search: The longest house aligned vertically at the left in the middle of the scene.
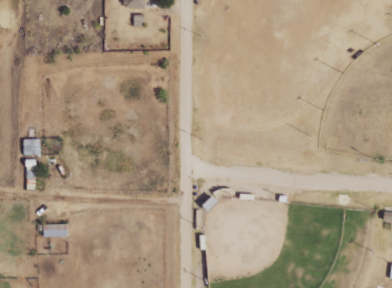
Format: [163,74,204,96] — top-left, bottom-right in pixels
[25,158,37,190]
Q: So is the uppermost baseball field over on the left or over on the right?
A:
right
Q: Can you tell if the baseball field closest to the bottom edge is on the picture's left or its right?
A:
right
